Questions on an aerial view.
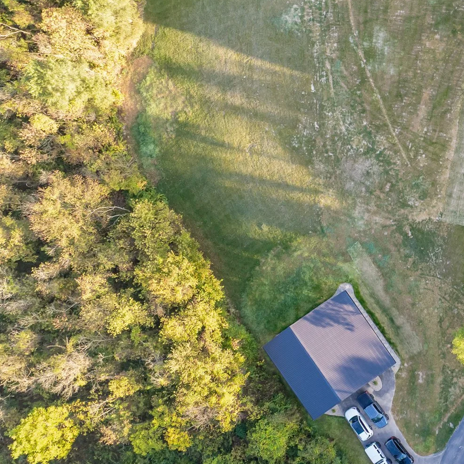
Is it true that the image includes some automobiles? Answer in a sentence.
Yes, there's an automobile down there.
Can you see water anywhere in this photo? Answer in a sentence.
No, the picture contains no water.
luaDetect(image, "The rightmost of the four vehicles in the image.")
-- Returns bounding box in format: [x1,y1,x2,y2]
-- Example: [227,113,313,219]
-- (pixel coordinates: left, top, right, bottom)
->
[385,434,415,464]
